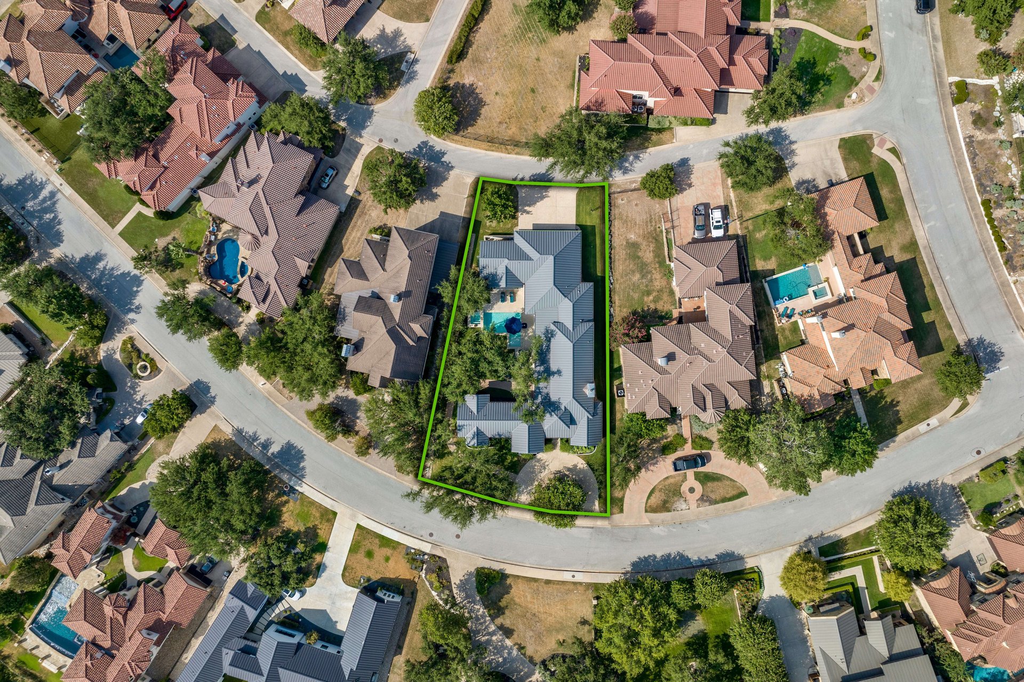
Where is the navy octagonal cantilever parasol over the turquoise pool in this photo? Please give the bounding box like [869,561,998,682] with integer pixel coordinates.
[505,317,528,334]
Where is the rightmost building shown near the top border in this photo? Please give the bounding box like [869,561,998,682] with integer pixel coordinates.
[580,0,770,120]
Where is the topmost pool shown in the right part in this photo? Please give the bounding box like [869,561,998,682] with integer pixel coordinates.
[765,263,833,308]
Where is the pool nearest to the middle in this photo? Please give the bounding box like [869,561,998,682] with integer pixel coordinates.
[468,311,523,349]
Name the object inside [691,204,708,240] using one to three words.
vehicle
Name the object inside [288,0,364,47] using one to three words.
house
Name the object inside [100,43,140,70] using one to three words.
swimming pool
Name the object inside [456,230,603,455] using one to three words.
house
